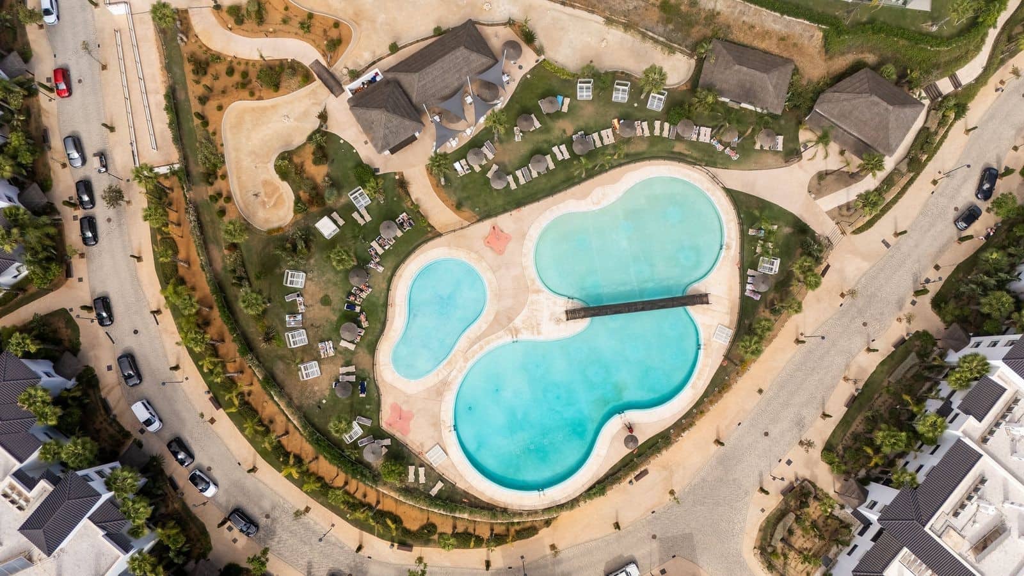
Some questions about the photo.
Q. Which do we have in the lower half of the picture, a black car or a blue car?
black car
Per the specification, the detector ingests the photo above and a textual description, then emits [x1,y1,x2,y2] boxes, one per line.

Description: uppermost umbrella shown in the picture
[501,39,523,61]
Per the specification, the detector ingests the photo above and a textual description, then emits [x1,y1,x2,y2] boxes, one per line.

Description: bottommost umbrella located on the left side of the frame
[361,441,384,465]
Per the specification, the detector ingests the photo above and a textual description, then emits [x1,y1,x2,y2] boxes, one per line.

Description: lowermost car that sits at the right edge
[954,203,981,232]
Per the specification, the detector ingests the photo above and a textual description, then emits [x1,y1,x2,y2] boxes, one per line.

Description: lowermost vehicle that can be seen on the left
[228,508,258,536]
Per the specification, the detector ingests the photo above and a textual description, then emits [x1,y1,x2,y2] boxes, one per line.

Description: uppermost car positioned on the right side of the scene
[975,167,996,200]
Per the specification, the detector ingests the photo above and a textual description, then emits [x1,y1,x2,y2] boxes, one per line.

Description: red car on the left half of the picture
[53,68,72,99]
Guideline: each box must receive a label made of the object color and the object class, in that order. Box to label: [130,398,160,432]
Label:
white car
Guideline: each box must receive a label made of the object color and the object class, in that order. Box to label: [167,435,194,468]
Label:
black car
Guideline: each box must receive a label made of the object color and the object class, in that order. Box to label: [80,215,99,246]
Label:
black car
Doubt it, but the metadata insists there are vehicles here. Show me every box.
[167,435,194,468]
[77,179,96,210]
[120,354,141,386]
[975,167,996,200]
[130,398,160,432]
[80,215,99,246]
[92,154,109,172]
[228,508,258,536]
[41,0,60,22]
[53,68,72,99]
[188,468,217,498]
[954,203,981,232]
[93,295,113,327]
[66,135,86,167]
